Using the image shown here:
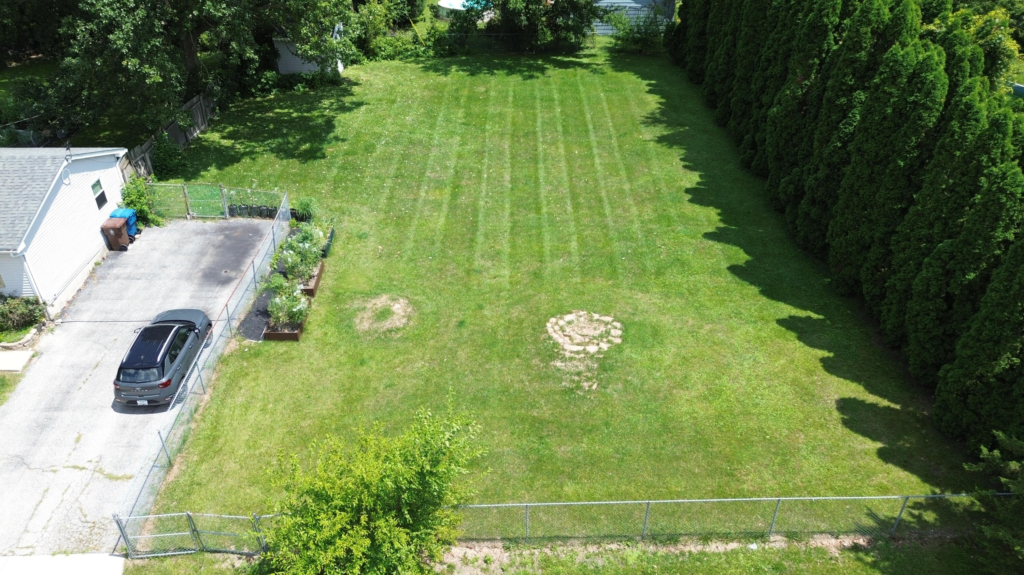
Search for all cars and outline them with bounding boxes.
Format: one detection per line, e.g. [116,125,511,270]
[114,309,212,406]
